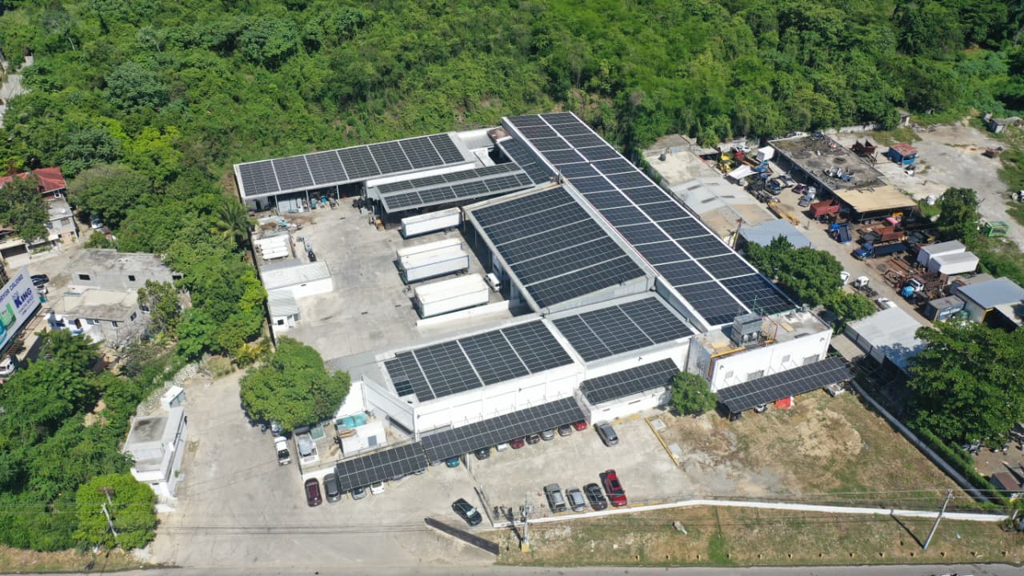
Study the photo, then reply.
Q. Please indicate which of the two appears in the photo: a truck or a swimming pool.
truck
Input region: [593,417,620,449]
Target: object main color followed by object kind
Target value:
gray car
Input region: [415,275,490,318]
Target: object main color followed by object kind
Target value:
white trailer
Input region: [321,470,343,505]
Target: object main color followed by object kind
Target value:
gray car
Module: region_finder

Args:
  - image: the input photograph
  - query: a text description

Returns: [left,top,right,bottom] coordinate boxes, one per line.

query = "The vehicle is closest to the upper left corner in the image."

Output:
[88,211,103,229]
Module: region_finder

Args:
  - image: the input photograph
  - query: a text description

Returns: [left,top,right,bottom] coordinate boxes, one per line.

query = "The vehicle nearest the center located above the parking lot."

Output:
[484,271,505,291]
